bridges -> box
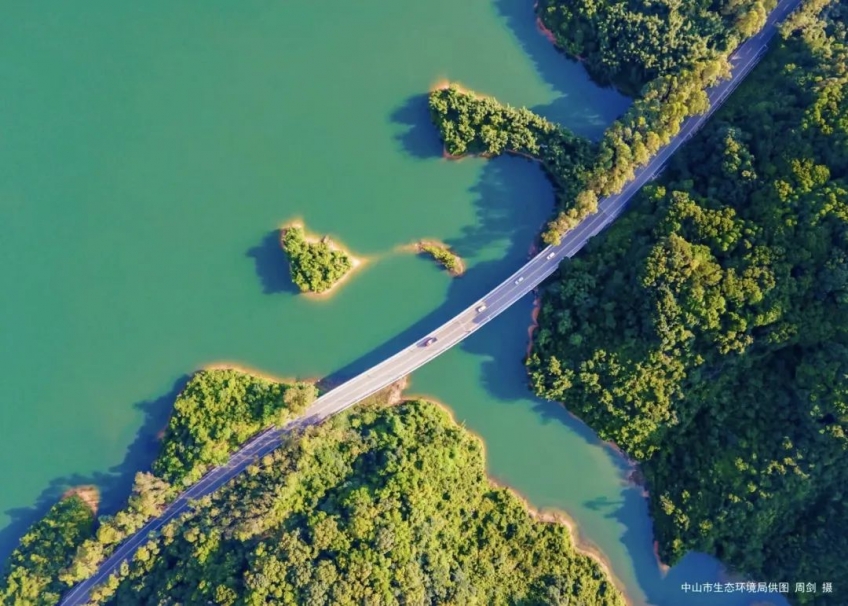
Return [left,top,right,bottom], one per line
[293,203,613,430]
